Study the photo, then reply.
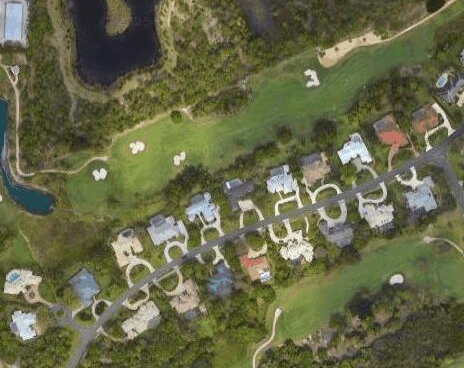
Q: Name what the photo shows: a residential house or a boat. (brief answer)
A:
residential house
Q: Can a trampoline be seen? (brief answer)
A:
No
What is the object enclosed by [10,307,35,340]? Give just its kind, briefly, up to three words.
house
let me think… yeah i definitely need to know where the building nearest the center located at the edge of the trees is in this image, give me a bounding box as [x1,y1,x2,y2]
[224,178,255,212]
